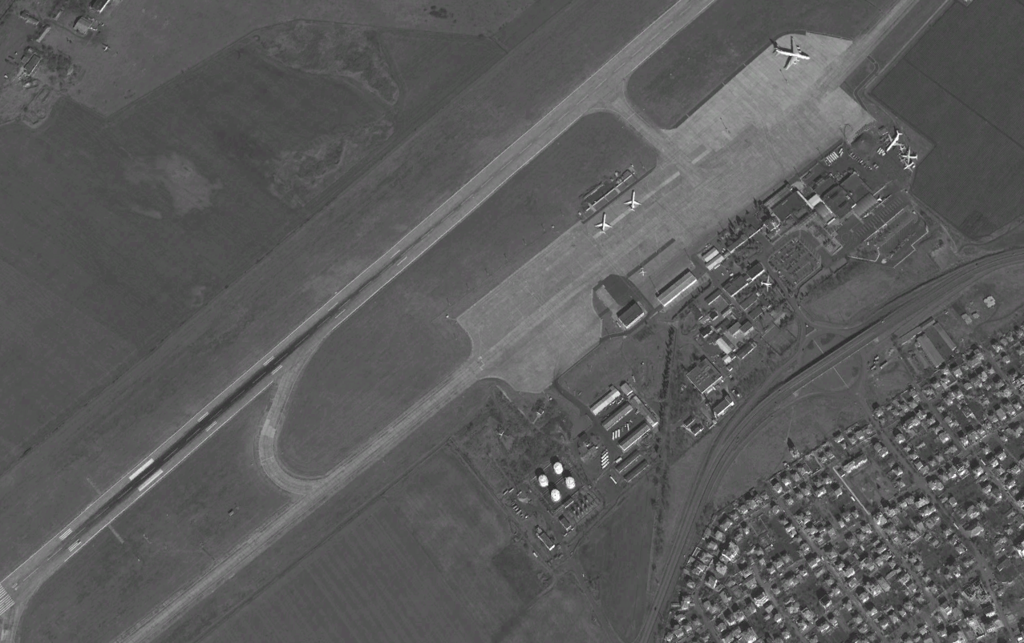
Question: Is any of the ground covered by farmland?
Yes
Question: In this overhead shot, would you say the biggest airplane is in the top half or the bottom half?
top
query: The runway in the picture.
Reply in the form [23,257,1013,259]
[0,0,718,617]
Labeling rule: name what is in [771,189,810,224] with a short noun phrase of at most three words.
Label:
building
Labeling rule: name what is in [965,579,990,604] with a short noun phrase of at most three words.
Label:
building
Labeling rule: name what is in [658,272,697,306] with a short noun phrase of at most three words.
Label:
hangar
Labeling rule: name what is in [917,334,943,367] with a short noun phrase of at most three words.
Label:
shed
